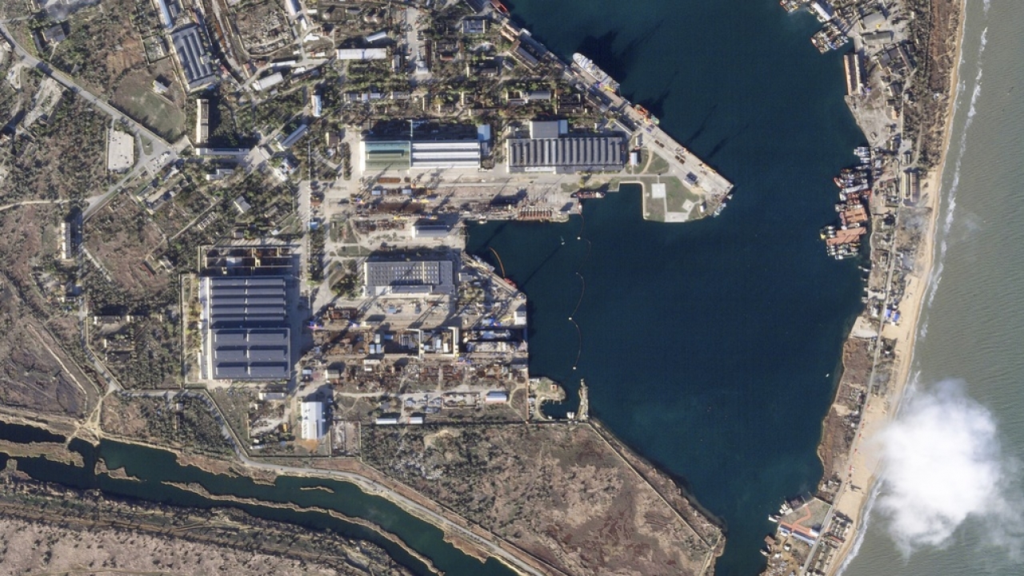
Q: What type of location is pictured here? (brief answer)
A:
port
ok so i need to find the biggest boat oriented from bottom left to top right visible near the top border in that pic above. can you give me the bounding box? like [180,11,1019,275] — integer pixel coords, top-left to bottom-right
[813,22,838,40]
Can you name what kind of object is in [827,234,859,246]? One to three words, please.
ship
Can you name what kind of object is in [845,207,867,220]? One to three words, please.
ship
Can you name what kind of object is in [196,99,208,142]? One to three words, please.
building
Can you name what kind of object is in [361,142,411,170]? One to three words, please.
building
